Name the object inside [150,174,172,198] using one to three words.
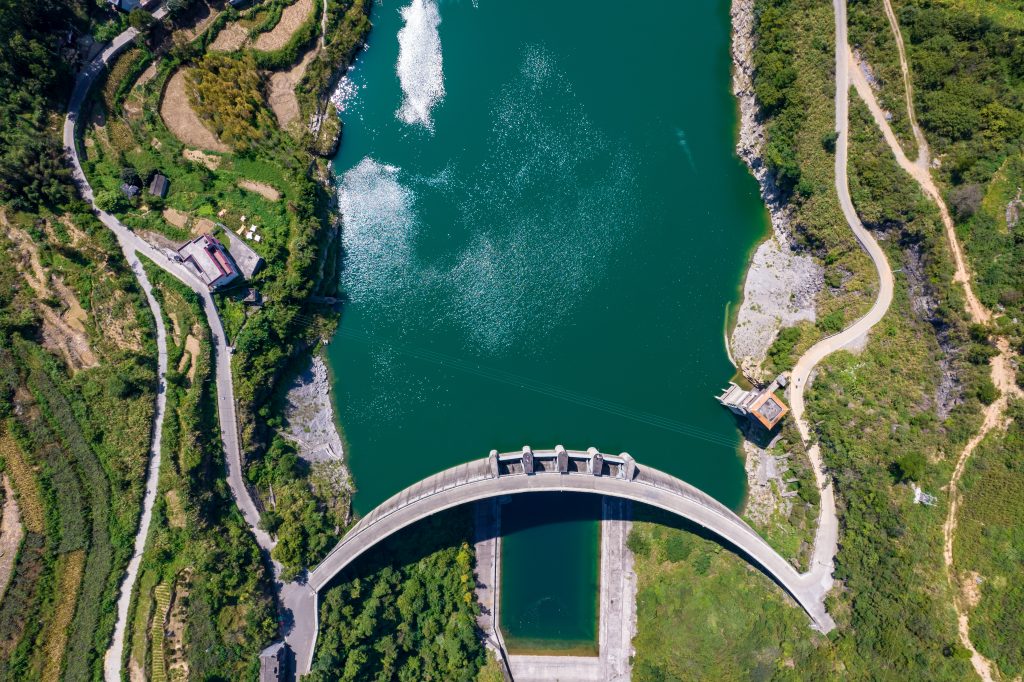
shed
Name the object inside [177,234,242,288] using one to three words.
house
